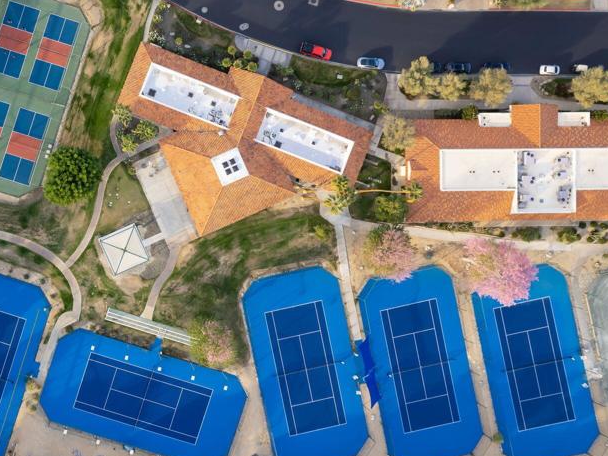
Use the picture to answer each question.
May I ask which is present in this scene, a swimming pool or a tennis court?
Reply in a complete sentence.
Visible in the photo is a tennis court.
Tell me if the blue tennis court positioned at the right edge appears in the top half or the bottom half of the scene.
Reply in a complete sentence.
The blue tennis court positioned at the right edge sits in the bottom half of the picture.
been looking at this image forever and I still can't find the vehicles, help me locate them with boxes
[540,63,563,74]
[359,56,385,69]
[301,41,332,59]
[425,60,450,72]
[575,64,594,72]
[485,59,513,72]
